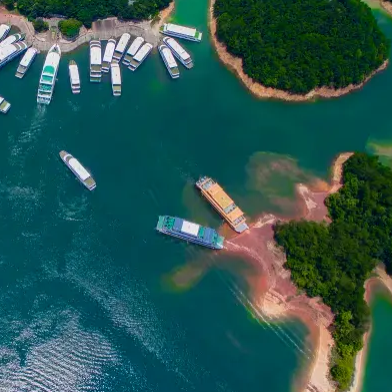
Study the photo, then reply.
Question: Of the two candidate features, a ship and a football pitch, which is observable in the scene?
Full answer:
I can see a ship in this picture.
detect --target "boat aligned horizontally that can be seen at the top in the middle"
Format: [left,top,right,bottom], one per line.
[159,27,201,44]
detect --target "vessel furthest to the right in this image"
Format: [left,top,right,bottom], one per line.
[196,176,248,233]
